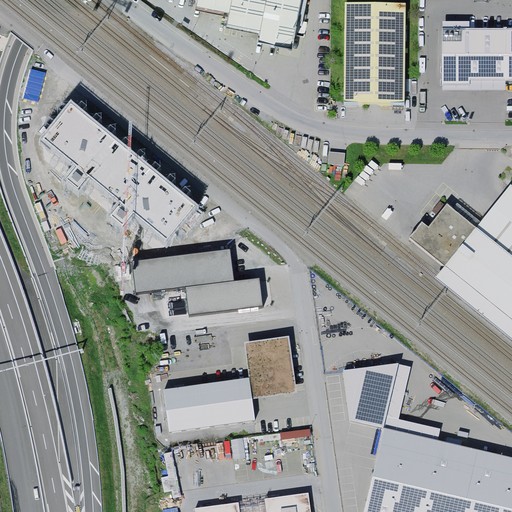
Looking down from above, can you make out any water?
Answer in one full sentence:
No, water can't be seen anywhere here.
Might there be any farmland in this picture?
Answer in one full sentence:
No, farmland can't be seen anywhere here.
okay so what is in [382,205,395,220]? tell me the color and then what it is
white vehicle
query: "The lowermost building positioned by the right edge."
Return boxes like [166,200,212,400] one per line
[364,428,512,512]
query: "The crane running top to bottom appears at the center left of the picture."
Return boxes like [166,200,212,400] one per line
[118,121,132,294]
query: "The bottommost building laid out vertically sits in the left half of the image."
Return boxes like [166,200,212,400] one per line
[162,452,182,498]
